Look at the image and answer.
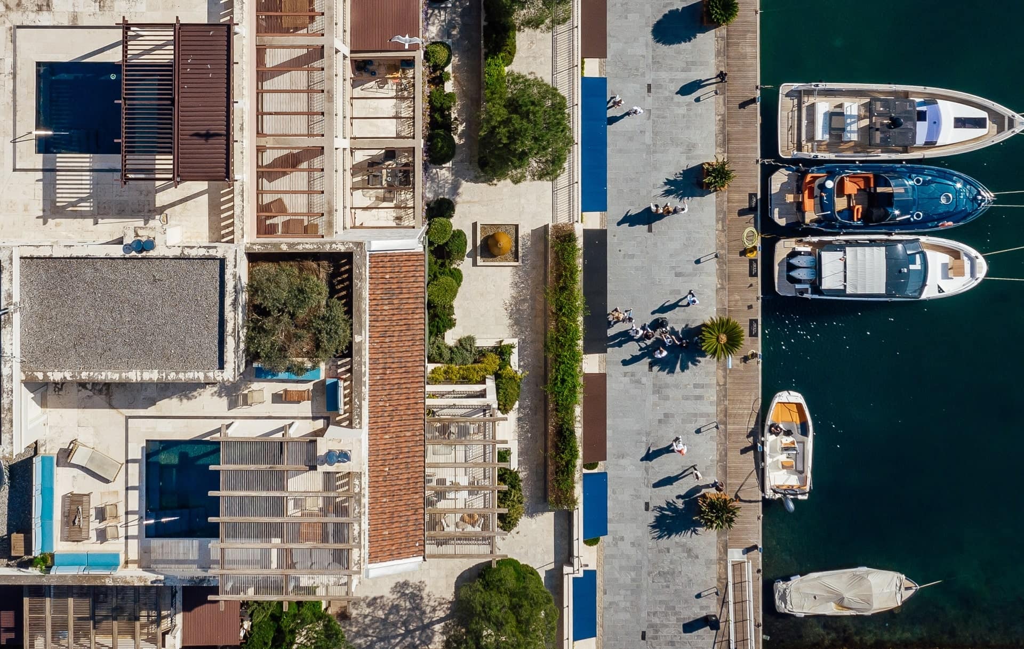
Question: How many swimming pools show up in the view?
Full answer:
The number of swimming pools here is 2.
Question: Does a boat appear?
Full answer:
Yes, looking at the shot, I can spot a boat.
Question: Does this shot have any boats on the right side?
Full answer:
Yes, you'll find a boat on the right side.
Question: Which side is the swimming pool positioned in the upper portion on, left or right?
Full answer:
The swimming pool positioned in the upper portion is on the left side of the image.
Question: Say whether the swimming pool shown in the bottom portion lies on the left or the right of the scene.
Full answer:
The swimming pool shown in the bottom portion is on the left side of the image.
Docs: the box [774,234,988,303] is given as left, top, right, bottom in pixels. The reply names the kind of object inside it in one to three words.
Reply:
boat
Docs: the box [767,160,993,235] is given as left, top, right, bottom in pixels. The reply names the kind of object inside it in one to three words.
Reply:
boat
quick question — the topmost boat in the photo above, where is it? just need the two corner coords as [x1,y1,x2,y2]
[779,83,1024,159]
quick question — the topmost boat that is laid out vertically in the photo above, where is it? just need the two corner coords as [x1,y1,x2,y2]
[761,391,813,512]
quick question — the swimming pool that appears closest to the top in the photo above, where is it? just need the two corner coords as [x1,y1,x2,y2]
[36,62,157,154]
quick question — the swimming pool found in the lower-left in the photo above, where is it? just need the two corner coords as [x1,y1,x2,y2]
[146,440,283,537]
